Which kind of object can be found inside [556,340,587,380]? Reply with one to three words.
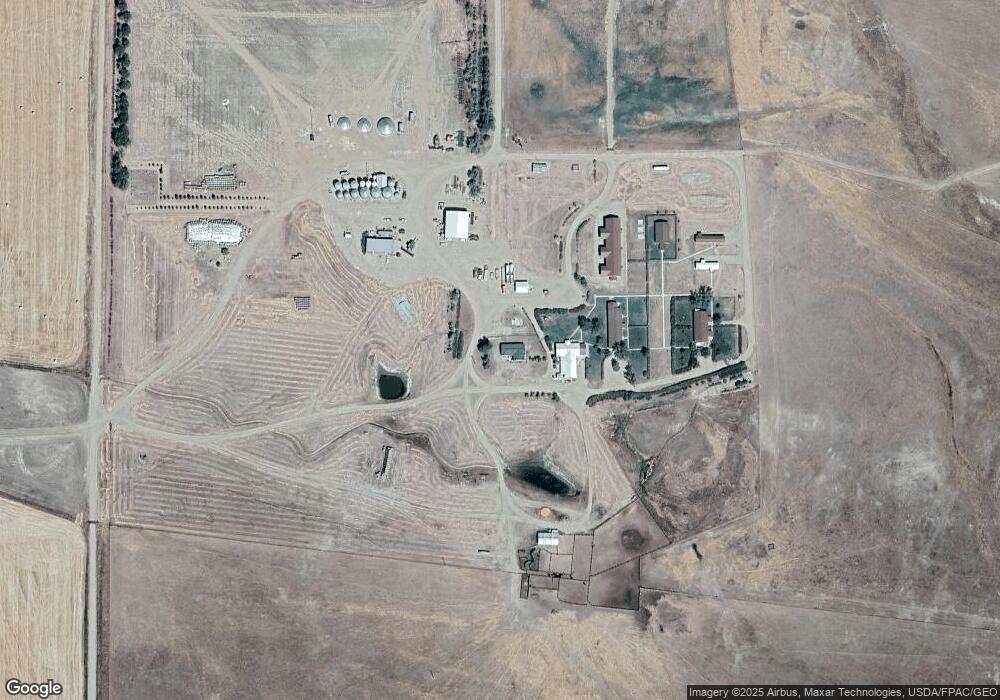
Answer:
building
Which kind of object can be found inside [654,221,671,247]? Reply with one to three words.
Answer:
building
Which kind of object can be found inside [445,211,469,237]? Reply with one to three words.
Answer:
shed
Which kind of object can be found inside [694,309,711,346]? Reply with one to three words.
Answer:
house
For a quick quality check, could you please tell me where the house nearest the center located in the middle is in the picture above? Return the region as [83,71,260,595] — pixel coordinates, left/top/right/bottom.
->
[501,343,525,362]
